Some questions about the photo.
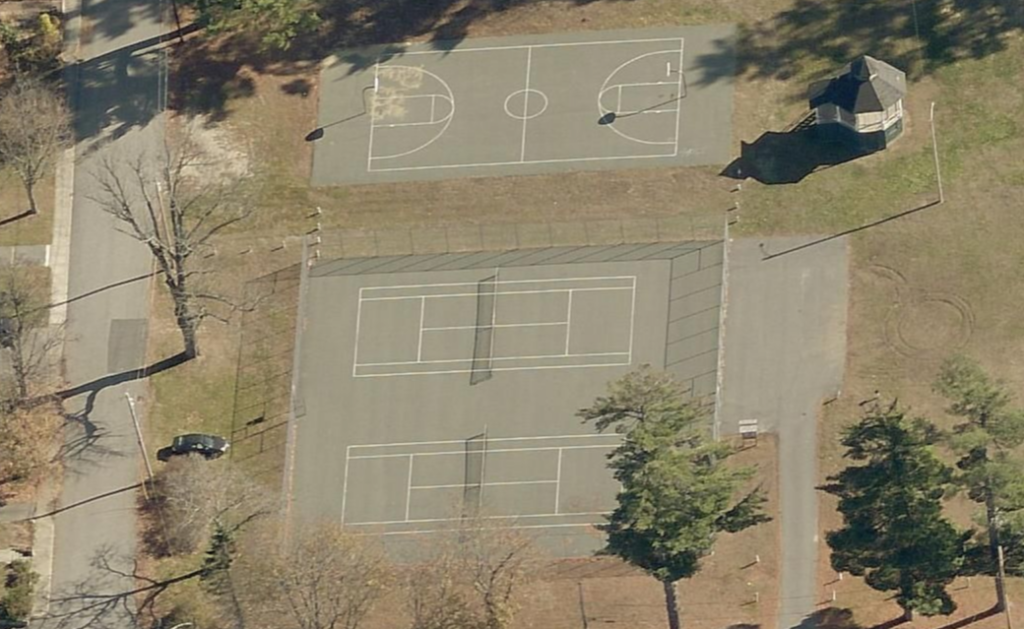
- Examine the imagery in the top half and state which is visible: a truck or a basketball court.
basketball court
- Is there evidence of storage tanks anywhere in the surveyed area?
No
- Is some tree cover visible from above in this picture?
Yes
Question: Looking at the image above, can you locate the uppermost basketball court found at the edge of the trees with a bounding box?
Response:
[311,24,734,185]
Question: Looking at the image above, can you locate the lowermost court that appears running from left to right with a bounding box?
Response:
[285,395,714,563]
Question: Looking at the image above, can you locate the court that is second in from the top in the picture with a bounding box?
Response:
[296,240,722,413]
